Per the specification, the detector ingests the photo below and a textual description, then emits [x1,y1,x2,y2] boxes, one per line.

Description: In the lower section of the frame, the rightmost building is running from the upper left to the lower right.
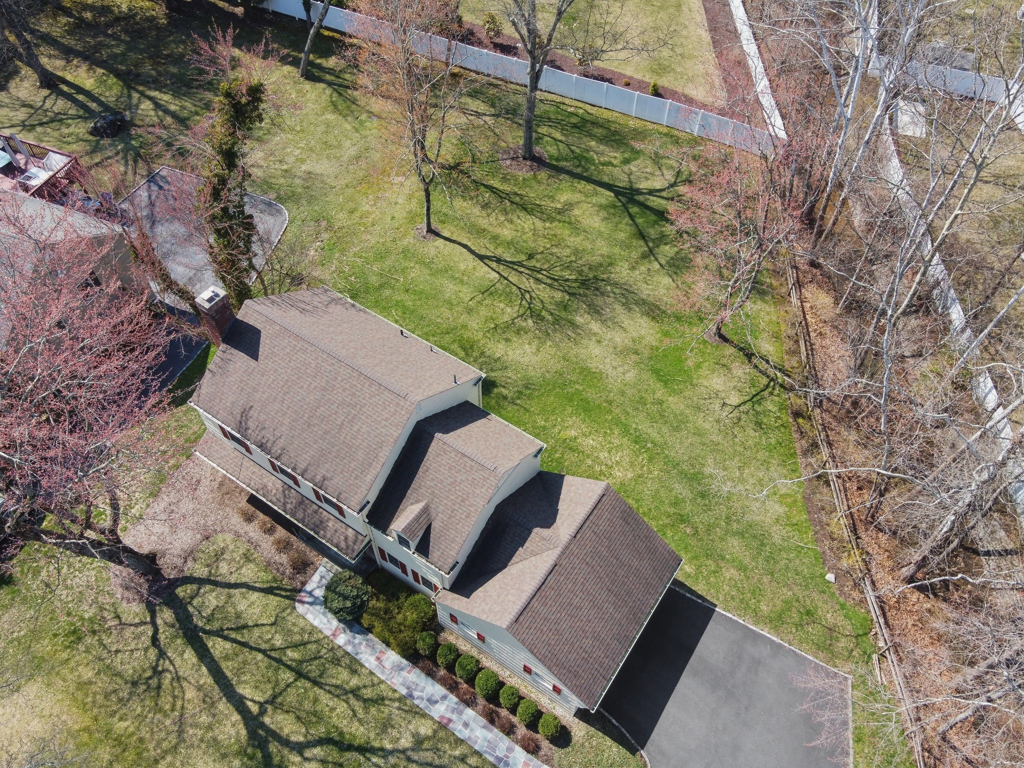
[188,284,685,717]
